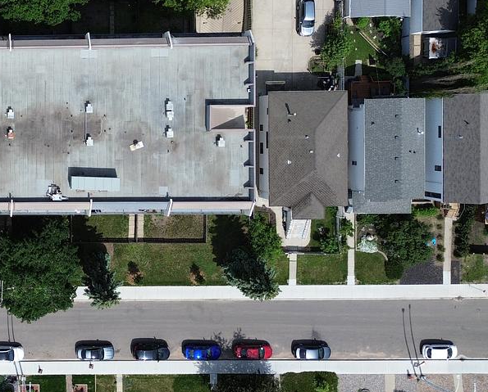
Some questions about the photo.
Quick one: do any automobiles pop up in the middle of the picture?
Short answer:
No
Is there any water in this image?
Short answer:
No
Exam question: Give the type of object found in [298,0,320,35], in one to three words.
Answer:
car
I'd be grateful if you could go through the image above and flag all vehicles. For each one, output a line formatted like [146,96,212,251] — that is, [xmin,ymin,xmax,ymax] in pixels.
[298,0,320,35]
[293,345,332,363]
[184,345,222,363]
[0,346,24,364]
[235,345,273,363]
[78,345,115,364]
[422,345,459,363]
[133,345,171,364]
